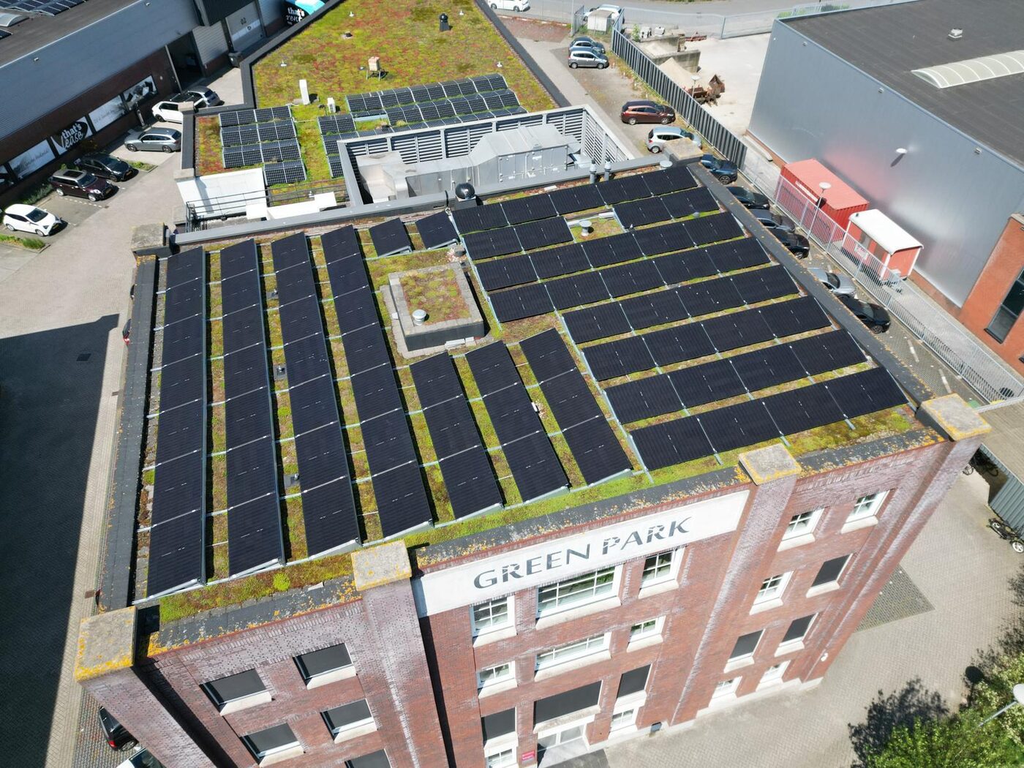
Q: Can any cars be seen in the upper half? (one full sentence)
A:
Yes, a car appears in the upper half.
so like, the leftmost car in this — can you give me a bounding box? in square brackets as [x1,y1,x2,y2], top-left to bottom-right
[0,201,62,236]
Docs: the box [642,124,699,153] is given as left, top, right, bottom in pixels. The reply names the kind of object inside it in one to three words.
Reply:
car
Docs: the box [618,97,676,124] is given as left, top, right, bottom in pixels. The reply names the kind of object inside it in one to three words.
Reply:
car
